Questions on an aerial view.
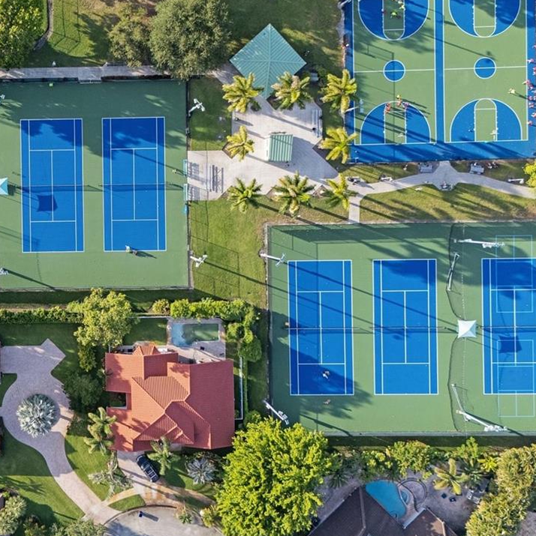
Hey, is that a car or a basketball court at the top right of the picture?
basketball court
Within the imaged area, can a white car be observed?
No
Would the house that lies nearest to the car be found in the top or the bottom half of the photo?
bottom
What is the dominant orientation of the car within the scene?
on a diagonal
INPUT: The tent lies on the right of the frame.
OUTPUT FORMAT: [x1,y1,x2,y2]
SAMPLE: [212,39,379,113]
[452,318,475,338]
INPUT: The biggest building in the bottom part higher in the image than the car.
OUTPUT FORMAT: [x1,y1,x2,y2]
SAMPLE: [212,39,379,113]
[106,345,235,452]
